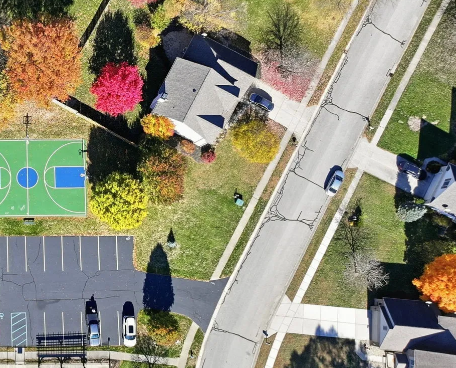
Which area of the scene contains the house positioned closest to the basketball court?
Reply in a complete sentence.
The house positioned closest to the basketball court appears toward the top of the photo.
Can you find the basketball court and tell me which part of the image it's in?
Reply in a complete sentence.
The basketball court sits in the left section of the image.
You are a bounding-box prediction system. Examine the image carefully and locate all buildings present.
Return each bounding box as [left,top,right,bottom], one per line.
[413,161,456,226]
[370,297,456,368]
[150,39,260,146]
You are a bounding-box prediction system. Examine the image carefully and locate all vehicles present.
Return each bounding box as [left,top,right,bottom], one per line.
[86,311,101,346]
[122,317,137,346]
[395,160,427,182]
[323,168,344,197]
[247,92,276,113]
